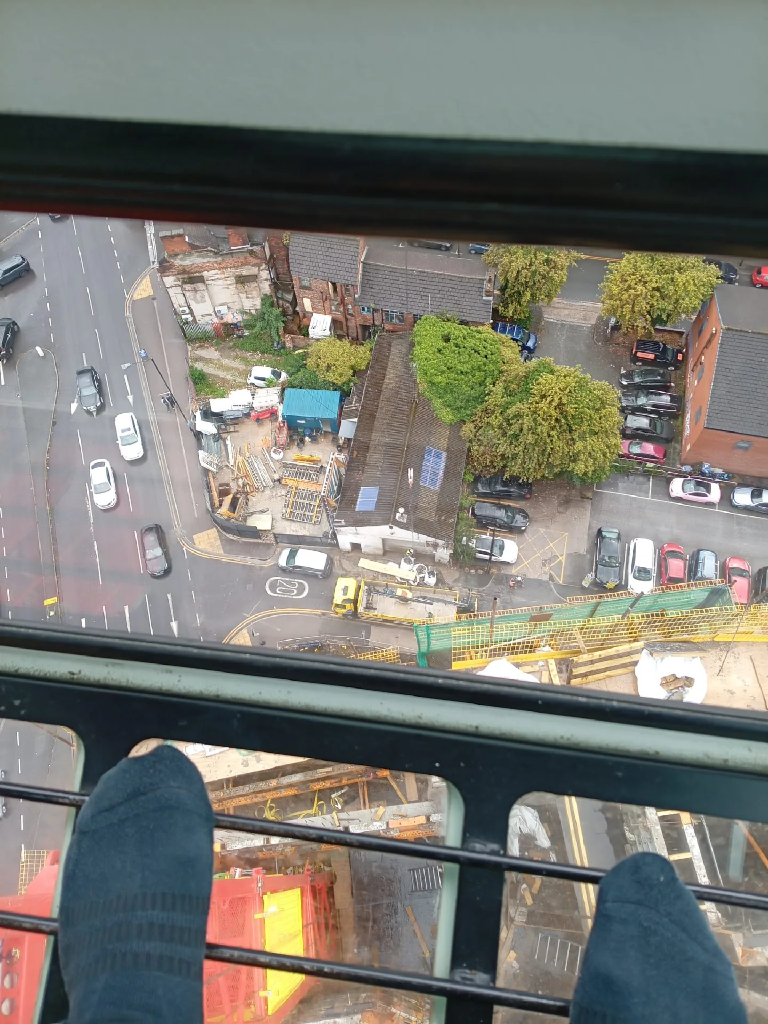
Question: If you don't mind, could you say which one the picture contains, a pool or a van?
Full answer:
The one in the frame is a van.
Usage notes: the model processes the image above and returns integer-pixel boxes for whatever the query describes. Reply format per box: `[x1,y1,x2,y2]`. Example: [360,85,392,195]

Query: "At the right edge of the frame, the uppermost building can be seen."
[685,288,768,471]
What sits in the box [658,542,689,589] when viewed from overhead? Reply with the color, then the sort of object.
red car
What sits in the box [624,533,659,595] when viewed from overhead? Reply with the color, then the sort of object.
white car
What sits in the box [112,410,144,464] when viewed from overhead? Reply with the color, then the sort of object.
white car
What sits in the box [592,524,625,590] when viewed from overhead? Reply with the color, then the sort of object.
gray car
